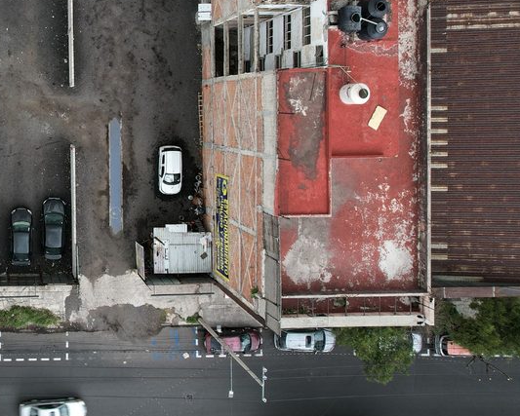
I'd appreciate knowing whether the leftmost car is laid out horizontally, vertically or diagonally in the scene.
vertically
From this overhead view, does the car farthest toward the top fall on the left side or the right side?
left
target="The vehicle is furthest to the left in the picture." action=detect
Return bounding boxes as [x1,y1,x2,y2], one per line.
[8,205,35,265]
